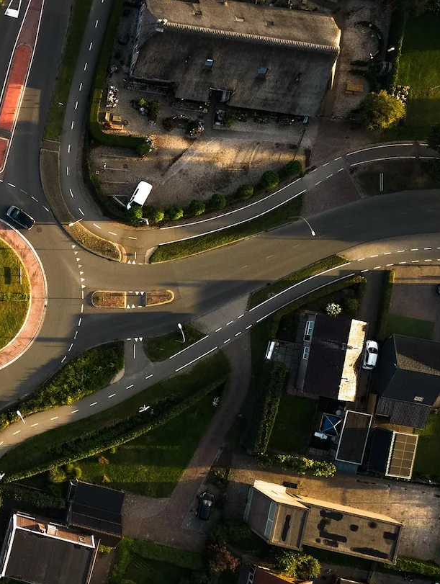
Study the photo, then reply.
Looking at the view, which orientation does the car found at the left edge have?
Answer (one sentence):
In this picture, the car found at the left edge is oriented on a diagonal.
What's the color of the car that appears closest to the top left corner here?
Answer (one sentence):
From above, the car that appears closest to the top left corner appears black.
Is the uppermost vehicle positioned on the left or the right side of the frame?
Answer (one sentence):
The uppermost vehicle sits on the left side.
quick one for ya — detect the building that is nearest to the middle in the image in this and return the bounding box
[293,314,367,401]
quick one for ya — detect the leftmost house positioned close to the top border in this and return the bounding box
[127,0,341,120]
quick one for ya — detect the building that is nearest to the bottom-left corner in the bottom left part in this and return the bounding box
[1,506,101,584]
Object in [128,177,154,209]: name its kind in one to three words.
vehicle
